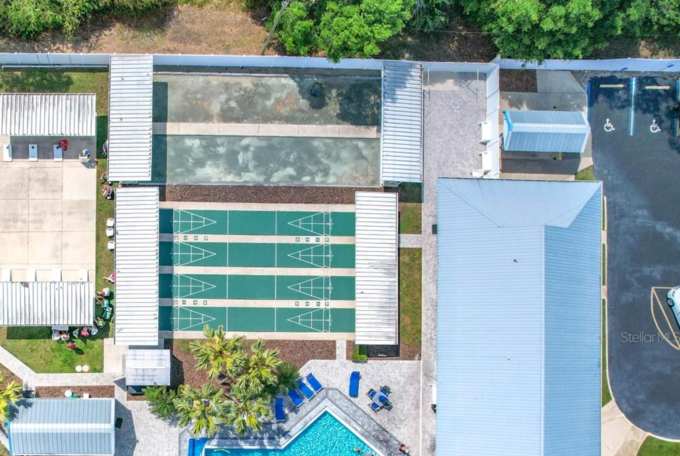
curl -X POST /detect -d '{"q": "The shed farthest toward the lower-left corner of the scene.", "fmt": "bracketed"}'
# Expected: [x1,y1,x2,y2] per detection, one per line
[6,397,116,456]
